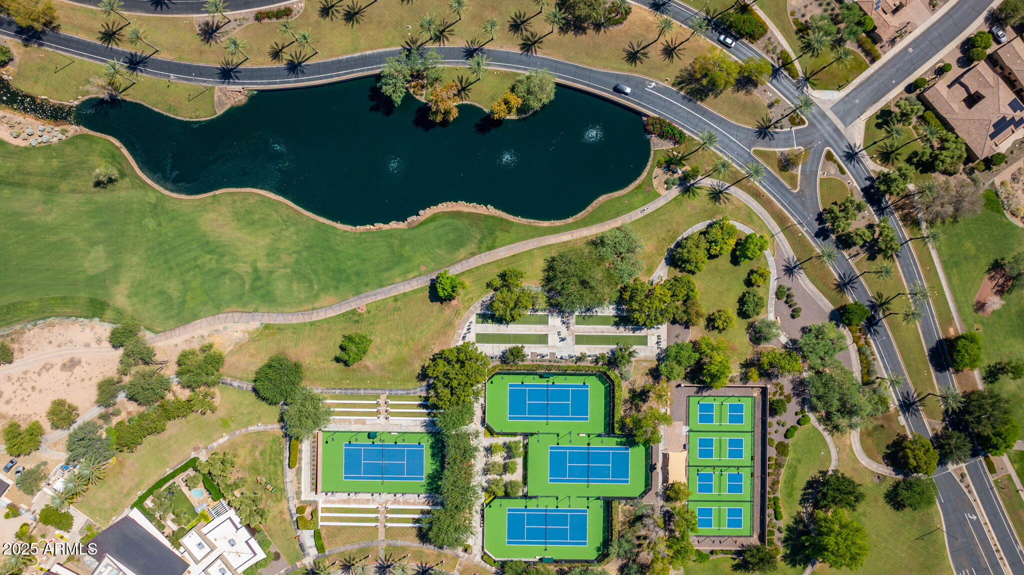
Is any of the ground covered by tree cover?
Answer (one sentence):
Yes, there's tree cover in this view.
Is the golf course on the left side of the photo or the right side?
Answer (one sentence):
The golf course sits on the left side.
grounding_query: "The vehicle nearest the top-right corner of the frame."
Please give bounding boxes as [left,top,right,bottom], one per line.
[992,23,1009,43]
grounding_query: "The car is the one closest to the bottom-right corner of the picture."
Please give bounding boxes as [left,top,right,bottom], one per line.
[867,311,880,327]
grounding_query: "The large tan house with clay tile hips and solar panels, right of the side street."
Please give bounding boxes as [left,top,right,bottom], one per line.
[926,56,1024,158]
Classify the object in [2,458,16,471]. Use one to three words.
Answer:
vehicle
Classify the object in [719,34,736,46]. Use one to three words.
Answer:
vehicle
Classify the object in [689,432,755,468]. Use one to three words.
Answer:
sports court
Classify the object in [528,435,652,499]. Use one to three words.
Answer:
tennis court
